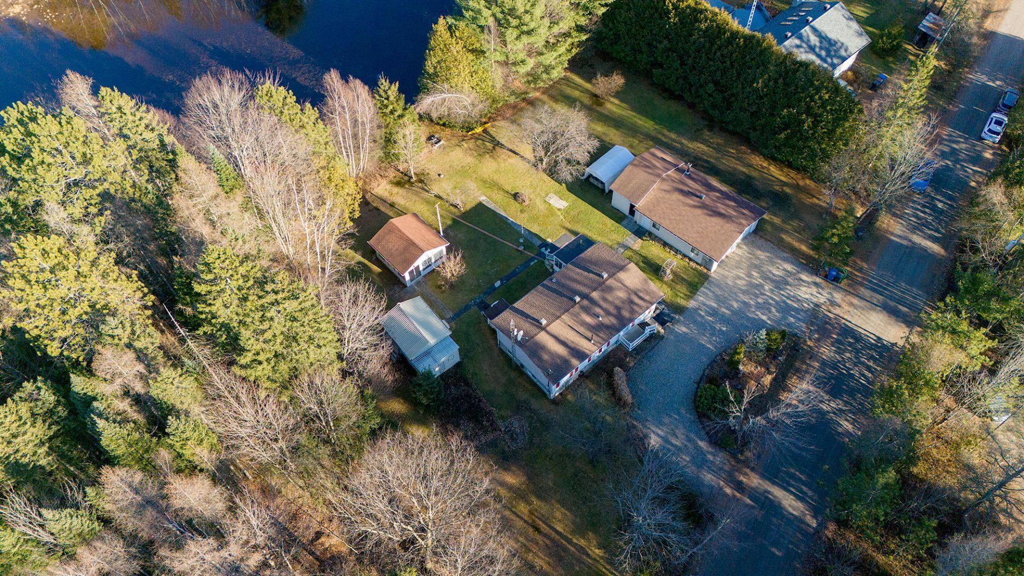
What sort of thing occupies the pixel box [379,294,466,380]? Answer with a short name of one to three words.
shed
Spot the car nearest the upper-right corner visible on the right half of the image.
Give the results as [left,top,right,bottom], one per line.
[996,81,1024,112]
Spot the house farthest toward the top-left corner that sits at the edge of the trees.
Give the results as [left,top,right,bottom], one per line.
[369,212,449,287]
